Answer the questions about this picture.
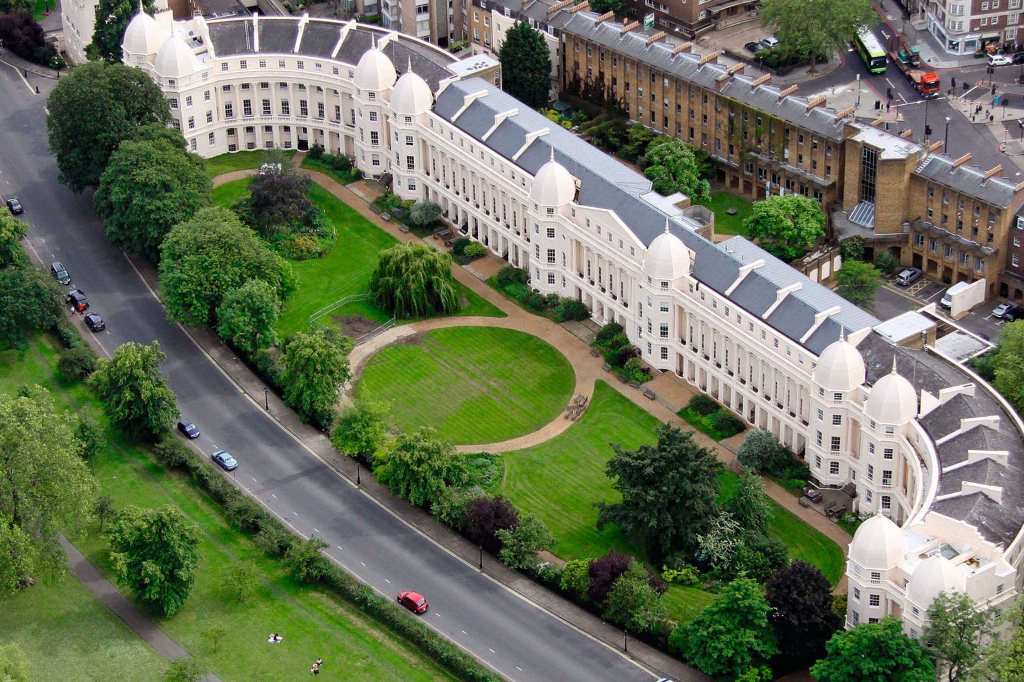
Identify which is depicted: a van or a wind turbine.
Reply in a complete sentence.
I can see a van in this picture.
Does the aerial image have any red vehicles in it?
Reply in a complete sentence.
Yes, this view includes a red vehicle.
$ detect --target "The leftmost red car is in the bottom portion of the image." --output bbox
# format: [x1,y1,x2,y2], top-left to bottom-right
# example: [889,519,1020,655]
[397,588,430,611]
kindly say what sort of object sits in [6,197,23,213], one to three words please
car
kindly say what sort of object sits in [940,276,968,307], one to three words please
van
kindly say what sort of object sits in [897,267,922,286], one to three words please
car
